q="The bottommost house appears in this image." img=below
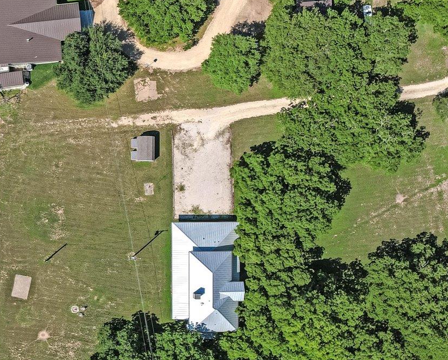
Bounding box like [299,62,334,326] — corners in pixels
[171,222,244,332]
